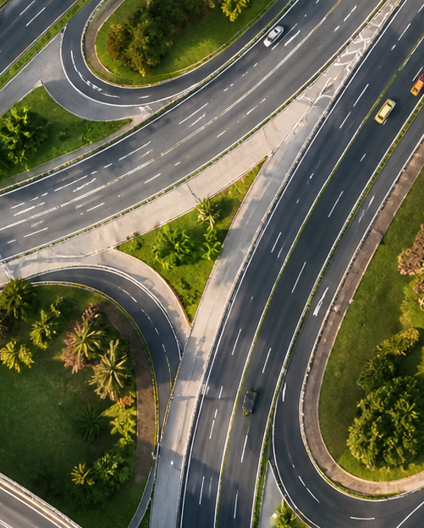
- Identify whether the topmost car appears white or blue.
white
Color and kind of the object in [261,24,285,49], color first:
white car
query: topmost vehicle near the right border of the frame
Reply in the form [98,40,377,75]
[410,72,424,96]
